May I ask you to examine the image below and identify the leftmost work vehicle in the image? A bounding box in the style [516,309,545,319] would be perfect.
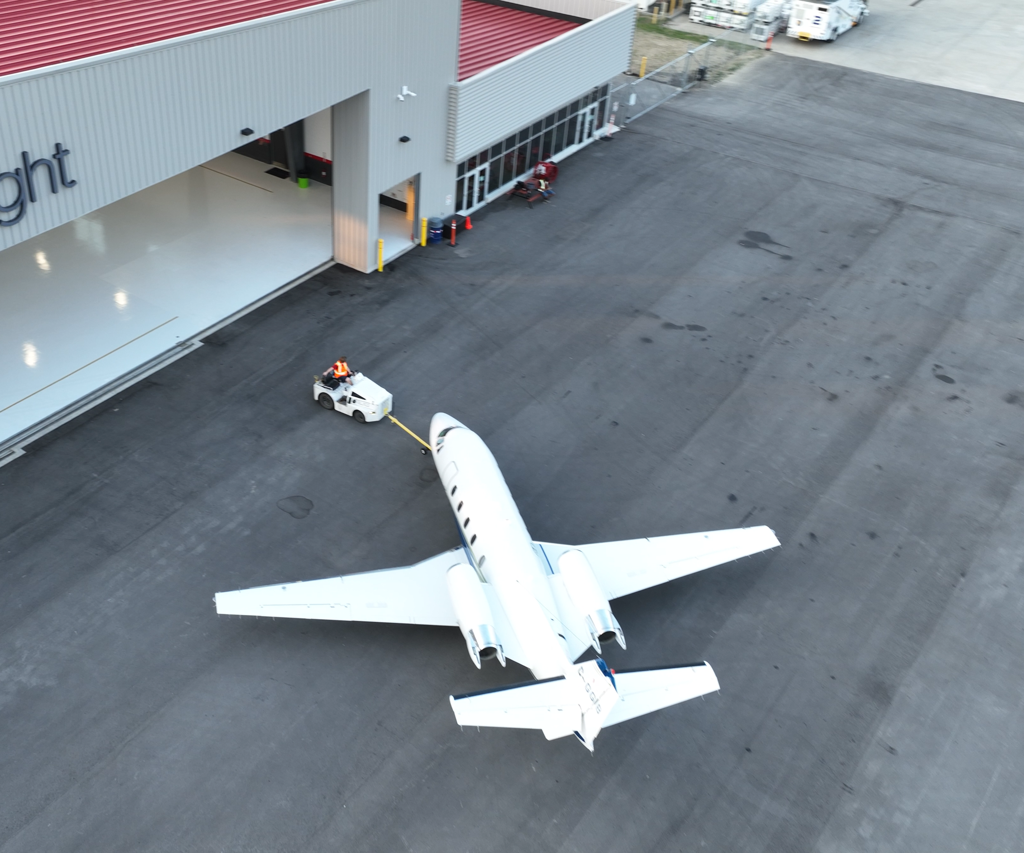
[314,369,397,424]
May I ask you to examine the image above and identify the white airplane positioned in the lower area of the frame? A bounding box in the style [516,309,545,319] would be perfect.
[213,412,779,757]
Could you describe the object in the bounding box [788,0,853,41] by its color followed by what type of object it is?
white truck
